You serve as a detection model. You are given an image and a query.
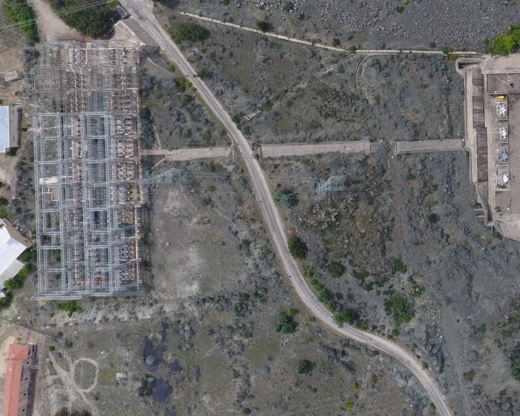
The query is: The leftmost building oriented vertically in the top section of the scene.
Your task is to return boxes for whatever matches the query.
[0,106,20,152]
